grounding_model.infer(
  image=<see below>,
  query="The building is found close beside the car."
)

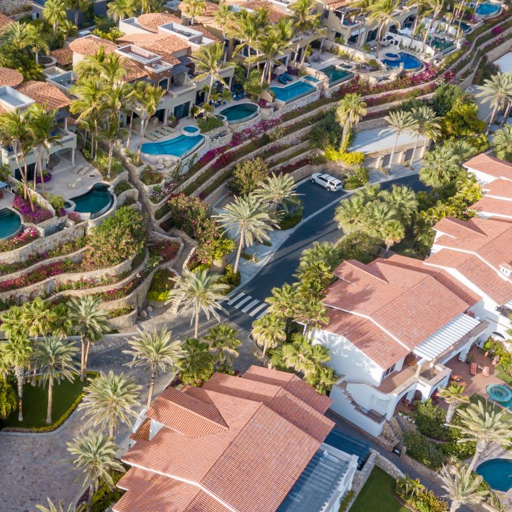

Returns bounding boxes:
[348,126,427,173]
